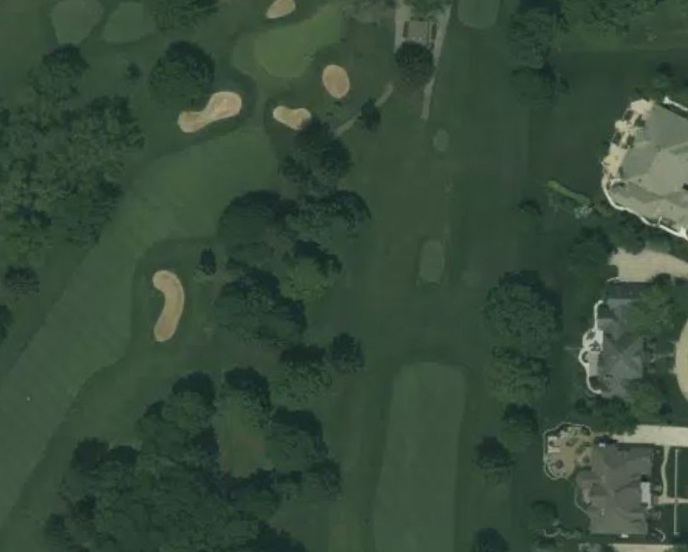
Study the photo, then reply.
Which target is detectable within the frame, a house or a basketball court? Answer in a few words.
house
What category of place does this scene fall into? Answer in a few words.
golf course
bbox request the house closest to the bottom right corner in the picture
[575,443,653,534]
